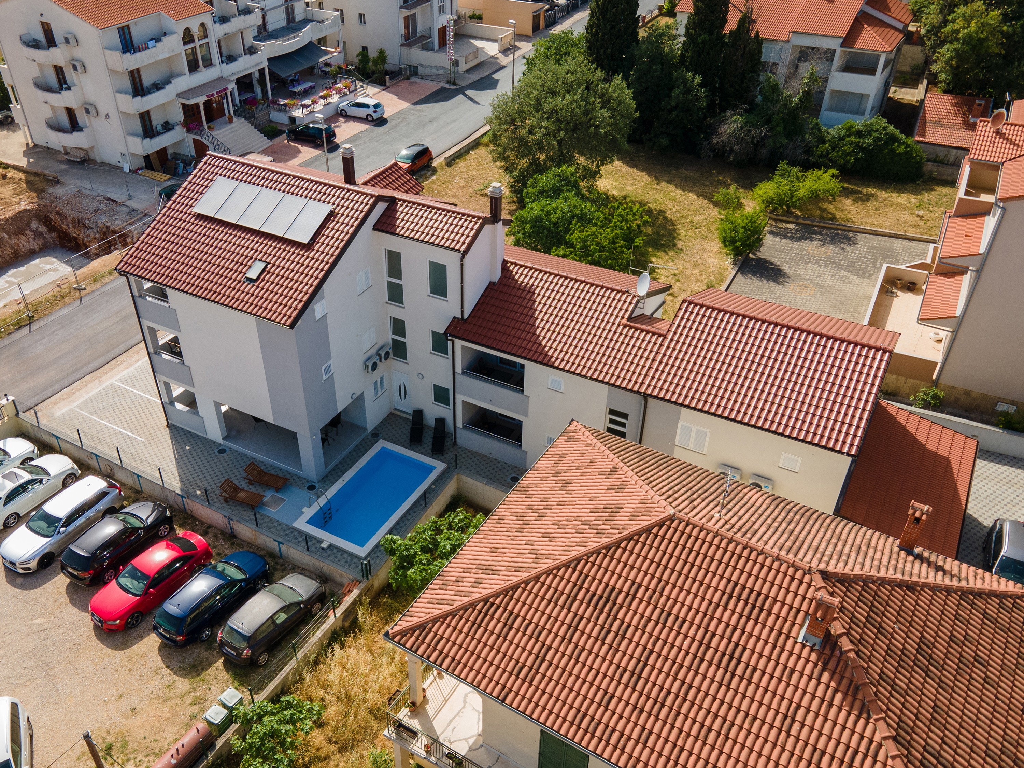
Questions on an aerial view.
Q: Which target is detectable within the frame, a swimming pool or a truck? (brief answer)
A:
swimming pool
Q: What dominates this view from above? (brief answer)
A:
buildings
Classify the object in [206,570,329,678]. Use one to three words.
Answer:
car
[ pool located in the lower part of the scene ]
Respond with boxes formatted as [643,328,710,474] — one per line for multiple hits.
[291,438,448,556]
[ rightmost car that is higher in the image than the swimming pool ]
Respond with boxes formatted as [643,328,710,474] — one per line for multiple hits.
[391,139,439,173]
